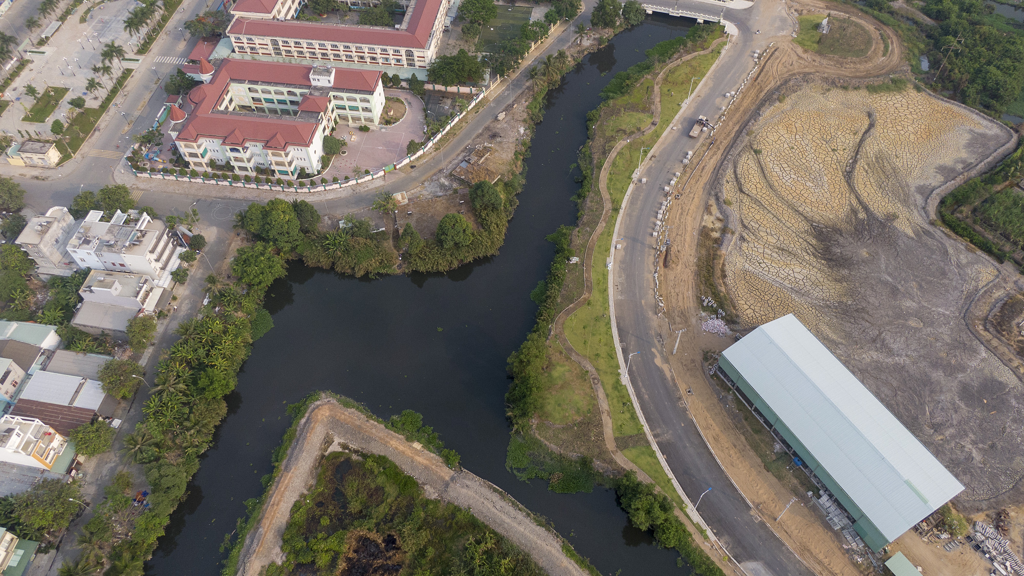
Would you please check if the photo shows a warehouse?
Yes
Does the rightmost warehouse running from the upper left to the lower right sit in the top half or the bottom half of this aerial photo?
bottom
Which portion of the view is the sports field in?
top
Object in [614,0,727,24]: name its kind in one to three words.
bridge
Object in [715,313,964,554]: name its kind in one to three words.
warehouse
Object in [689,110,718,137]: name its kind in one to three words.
truck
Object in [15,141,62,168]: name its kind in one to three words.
building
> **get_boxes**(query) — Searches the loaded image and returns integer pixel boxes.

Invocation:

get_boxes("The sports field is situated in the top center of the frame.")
[479,1,533,53]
